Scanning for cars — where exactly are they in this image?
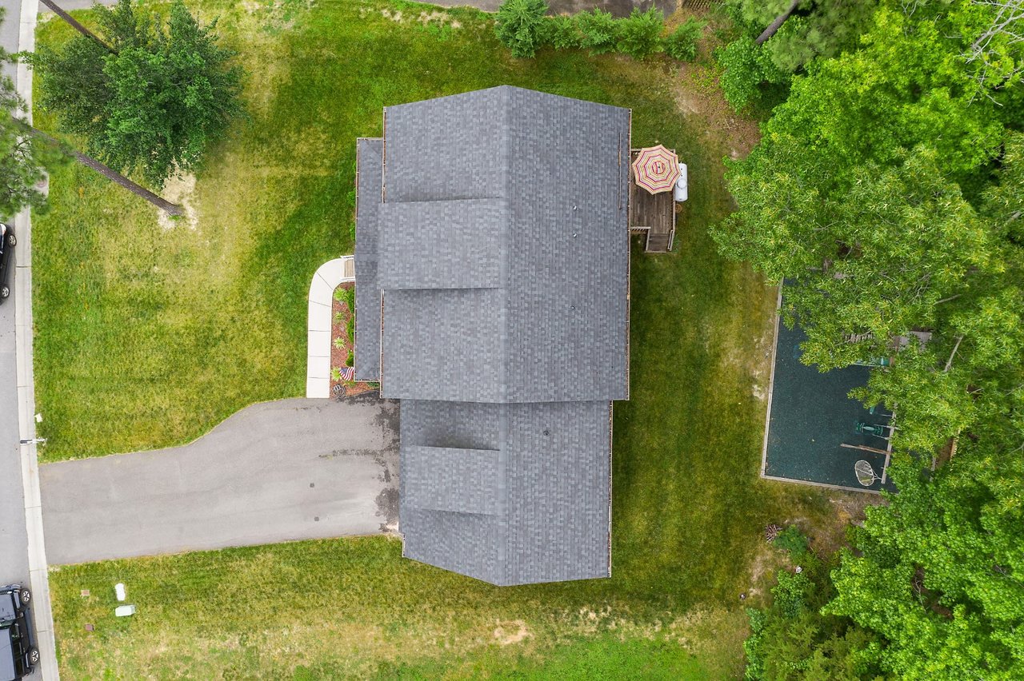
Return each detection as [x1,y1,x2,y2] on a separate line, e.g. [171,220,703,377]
[0,220,20,310]
[0,580,42,681]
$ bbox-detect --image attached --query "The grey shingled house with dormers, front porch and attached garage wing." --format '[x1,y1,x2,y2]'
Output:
[339,85,632,586]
